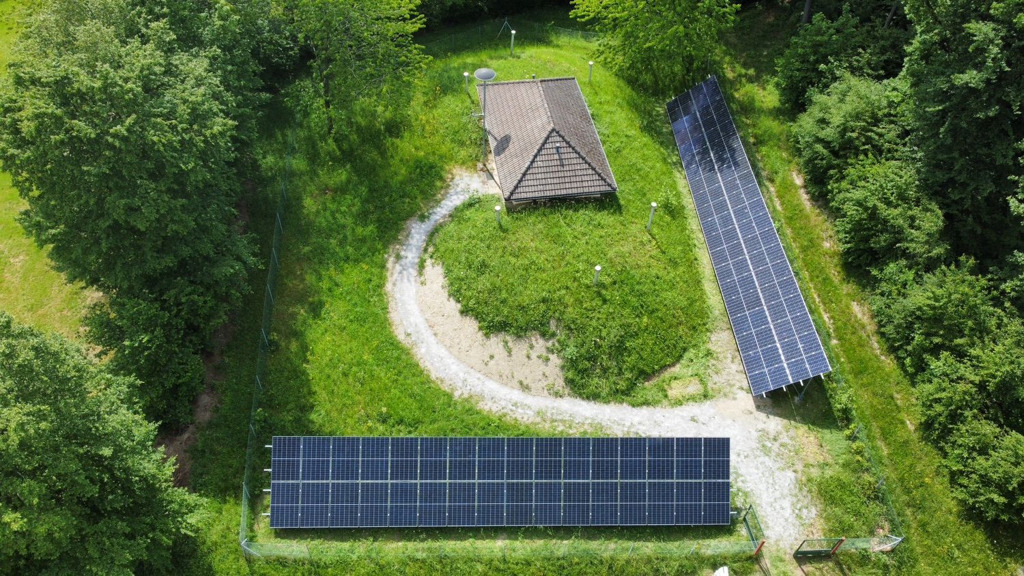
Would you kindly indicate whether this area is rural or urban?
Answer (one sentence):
The area shown here is rural.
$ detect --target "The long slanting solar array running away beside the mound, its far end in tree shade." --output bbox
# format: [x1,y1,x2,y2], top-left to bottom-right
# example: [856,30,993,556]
[666,77,830,401]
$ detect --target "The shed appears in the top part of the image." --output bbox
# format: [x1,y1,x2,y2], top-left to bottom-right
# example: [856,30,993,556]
[477,68,620,211]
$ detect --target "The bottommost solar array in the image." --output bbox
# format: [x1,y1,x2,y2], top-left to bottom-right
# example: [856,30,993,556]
[261,438,736,527]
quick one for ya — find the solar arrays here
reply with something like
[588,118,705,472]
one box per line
[261,438,736,527]
[666,77,830,401]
